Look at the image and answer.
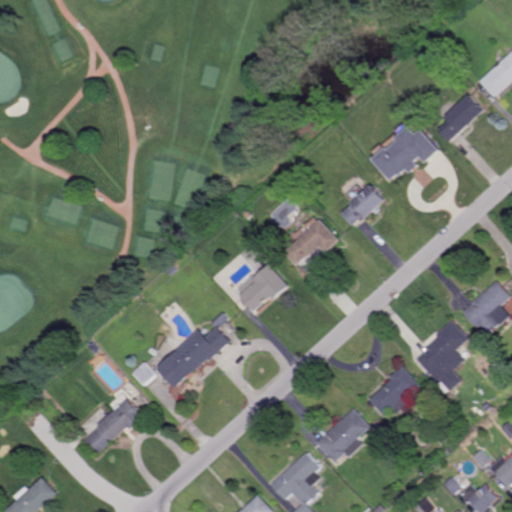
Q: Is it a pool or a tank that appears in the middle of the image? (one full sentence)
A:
Looking in the middle of the image, you will find a pool.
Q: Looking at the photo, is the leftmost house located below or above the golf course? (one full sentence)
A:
Looking at the scene, the leftmost house is located below the golf course.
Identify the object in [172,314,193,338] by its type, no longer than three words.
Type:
swimming pool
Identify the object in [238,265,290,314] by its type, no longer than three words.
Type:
house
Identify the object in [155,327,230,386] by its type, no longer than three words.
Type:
house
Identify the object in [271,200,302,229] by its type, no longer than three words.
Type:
building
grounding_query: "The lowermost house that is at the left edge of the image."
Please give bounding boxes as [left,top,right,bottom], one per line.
[2,477,56,512]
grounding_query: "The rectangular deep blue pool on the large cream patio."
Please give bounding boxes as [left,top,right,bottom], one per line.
[229,264,252,284]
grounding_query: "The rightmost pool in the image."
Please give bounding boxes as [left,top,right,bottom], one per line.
[460,459,478,477]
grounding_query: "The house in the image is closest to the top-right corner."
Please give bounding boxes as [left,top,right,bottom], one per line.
[479,52,512,98]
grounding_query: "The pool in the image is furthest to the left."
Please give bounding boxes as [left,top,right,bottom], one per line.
[96,362,124,392]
